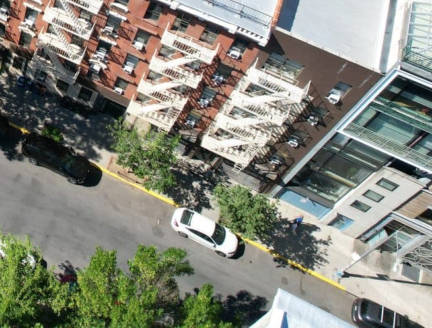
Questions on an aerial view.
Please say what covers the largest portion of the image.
buildings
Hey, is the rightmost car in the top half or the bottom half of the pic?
bottom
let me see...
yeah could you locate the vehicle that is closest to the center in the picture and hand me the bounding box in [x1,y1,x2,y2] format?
[167,205,245,263]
